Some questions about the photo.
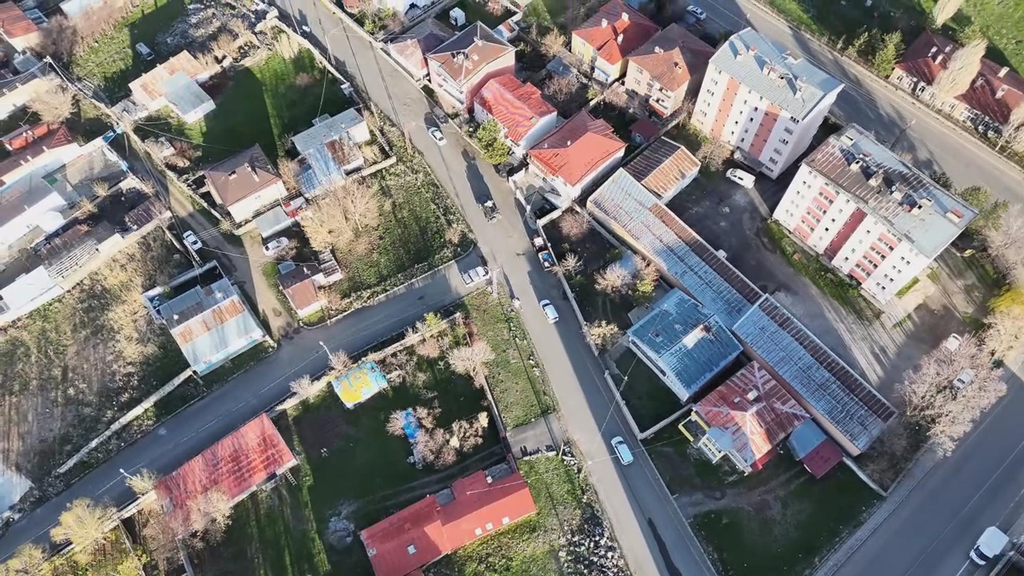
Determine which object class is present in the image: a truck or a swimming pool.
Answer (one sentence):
The one in the frame is a truck.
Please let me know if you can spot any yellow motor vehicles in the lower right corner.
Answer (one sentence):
No, the scene shows no yellow motor vehicle in the lower right corner.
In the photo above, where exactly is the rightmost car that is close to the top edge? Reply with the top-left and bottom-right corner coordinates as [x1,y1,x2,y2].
[685,6,707,22]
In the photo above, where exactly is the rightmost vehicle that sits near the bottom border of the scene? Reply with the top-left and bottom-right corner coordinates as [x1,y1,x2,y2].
[966,524,1013,566]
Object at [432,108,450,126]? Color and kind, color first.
gray car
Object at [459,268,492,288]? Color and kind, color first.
white vehicle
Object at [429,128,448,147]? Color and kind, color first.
white car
